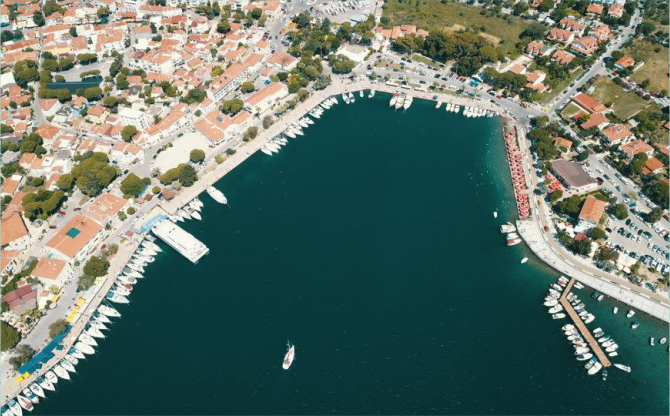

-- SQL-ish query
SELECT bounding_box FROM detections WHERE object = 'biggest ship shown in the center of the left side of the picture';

[154,219,210,266]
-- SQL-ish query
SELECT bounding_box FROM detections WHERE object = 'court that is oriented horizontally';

[49,76,106,91]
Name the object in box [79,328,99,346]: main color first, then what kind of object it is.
white boat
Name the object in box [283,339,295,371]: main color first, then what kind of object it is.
white boat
